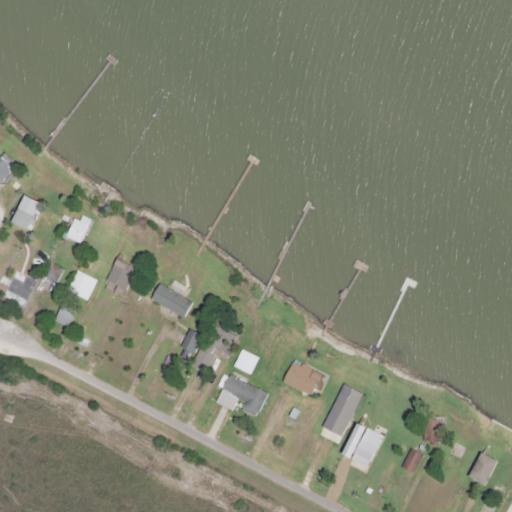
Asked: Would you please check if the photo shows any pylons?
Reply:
No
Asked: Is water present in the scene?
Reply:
Yes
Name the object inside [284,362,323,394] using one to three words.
house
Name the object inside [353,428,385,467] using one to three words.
building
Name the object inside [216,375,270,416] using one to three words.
house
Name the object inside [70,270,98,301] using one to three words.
building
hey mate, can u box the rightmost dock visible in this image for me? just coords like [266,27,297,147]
[370,278,418,360]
